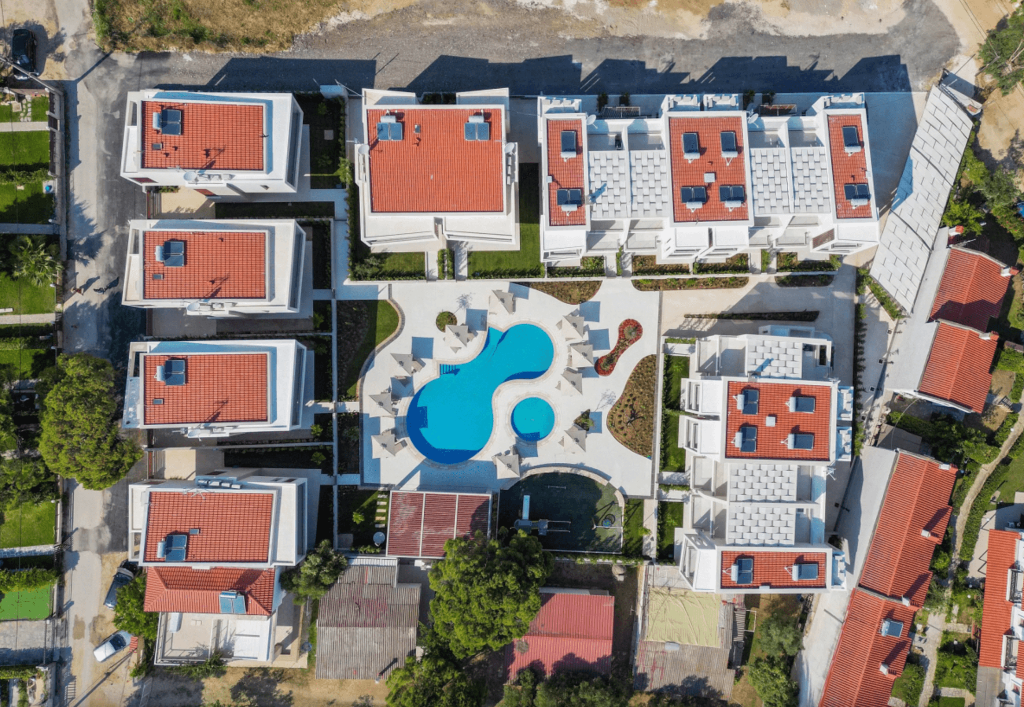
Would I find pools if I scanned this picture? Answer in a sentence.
Yes, the photo shows a pool.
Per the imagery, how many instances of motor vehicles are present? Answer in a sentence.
The picture shows 3 motor vehicles.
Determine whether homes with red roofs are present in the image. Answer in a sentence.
Yes, there is a home with a red roof in the image.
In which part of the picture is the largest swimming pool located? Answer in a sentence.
The largest swimming pool is in the center part of the image.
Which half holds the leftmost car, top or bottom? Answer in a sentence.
The leftmost car is in the top half of the image.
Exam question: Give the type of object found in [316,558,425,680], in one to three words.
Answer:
shed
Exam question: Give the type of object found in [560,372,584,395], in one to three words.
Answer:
umbrella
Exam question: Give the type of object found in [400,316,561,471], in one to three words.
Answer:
swimming pool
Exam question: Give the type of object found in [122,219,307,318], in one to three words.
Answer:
house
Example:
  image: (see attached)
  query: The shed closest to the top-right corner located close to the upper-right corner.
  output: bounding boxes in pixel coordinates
[937,85,982,119]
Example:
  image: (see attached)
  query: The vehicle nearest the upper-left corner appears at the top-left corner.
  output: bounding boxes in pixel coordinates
[12,28,40,82]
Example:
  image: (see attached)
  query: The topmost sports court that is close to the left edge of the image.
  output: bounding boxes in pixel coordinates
[0,584,50,620]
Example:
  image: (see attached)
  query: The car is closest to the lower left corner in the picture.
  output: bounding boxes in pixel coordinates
[88,630,136,669]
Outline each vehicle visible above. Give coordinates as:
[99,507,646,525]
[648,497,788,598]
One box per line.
[88,630,136,669]
[12,28,40,82]
[101,557,143,613]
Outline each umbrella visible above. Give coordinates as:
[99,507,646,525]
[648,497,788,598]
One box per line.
[389,352,414,377]
[570,344,595,369]
[444,321,470,346]
[495,453,521,479]
[560,372,584,395]
[370,433,397,459]
[562,314,587,339]
[369,392,393,416]
[488,285,516,314]
[563,428,587,453]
